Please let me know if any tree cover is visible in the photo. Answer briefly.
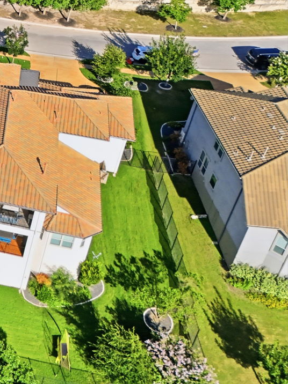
Yes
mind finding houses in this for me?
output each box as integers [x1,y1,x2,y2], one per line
[184,82,288,277]
[0,57,135,285]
